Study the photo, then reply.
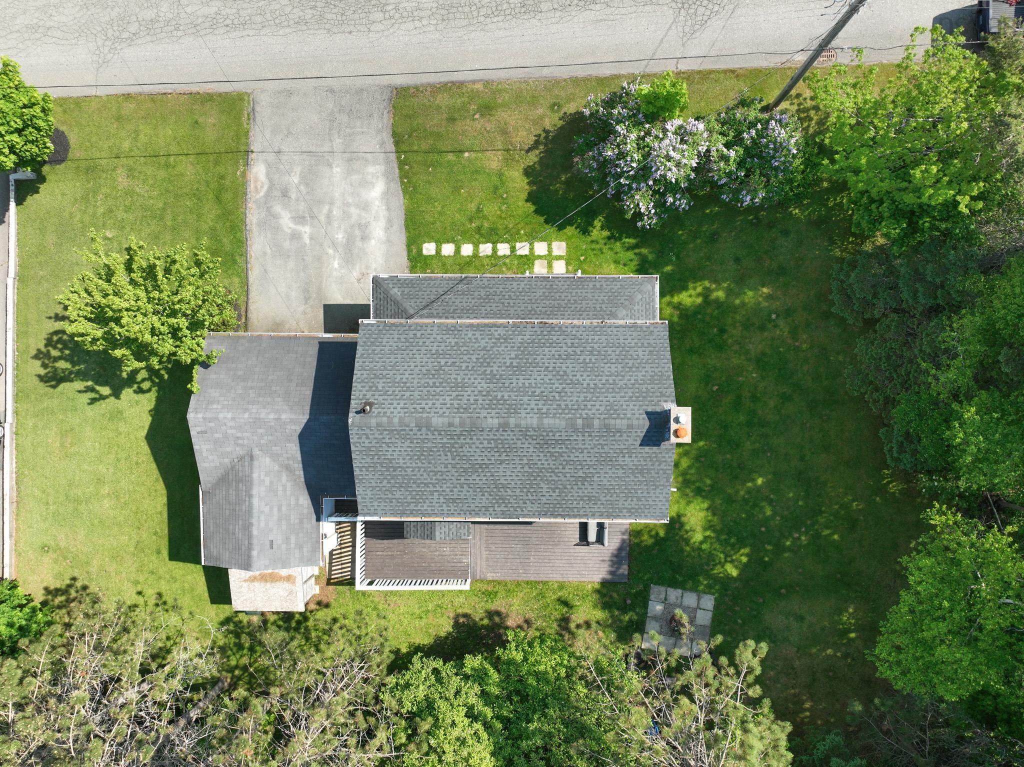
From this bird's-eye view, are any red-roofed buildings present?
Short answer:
No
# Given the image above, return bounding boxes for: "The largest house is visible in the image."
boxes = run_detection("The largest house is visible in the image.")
[188,272,691,573]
